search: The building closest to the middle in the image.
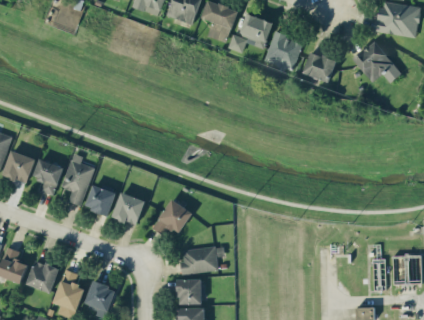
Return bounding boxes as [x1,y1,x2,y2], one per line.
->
[152,200,192,234]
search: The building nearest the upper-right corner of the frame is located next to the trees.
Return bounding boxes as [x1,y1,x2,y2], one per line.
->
[376,2,419,36]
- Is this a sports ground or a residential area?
residential area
